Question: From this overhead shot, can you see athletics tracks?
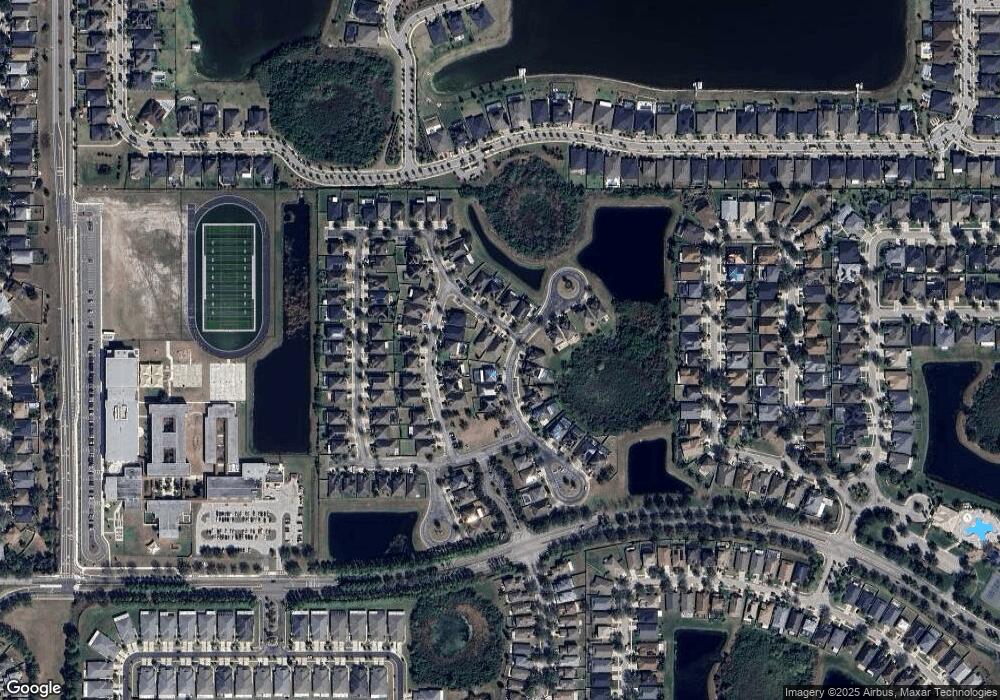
Yes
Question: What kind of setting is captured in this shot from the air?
residential area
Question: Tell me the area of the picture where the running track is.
left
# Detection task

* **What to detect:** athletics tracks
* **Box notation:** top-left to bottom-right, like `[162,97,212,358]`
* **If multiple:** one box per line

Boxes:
[185,195,271,358]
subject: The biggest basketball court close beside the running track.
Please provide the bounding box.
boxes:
[211,363,245,401]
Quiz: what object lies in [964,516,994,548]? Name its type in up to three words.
swimming pool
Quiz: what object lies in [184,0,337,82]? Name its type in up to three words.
pond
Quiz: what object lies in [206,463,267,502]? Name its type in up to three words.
building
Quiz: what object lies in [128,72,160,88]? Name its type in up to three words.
house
